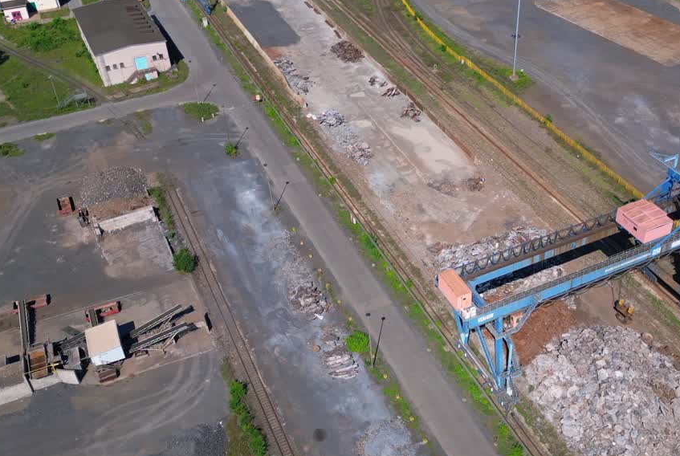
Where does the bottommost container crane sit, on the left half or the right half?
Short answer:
right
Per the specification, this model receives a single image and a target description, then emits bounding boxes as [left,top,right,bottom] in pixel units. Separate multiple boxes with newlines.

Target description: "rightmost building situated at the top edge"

[74,0,170,85]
